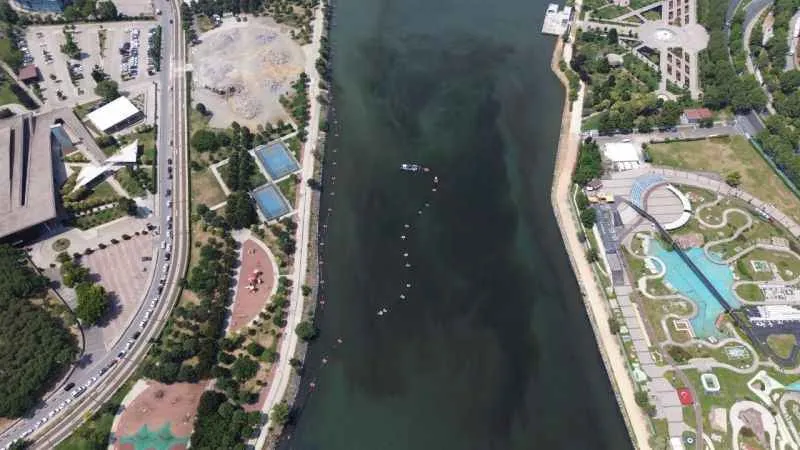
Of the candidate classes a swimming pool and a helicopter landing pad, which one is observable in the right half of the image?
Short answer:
swimming pool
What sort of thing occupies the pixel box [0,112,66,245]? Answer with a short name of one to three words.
building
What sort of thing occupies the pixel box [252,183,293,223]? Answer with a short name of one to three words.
sports court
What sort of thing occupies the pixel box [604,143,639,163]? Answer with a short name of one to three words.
tent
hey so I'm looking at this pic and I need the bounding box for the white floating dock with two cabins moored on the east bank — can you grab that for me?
[541,4,576,37]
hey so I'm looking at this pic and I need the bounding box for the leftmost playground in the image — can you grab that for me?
[115,381,203,450]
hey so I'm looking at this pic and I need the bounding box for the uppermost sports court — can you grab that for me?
[254,139,301,181]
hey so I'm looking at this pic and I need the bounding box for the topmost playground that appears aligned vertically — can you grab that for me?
[228,238,275,333]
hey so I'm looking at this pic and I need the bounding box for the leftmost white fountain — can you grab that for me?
[655,28,675,41]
